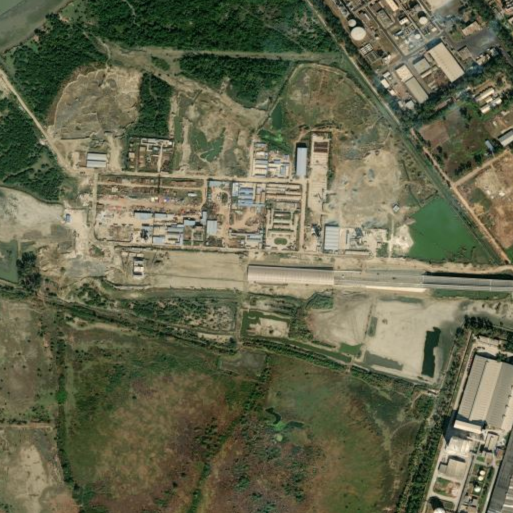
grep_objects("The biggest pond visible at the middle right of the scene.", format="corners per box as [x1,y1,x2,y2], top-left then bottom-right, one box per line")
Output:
[409,194,479,261]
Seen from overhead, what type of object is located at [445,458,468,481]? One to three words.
building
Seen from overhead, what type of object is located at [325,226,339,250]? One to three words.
building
